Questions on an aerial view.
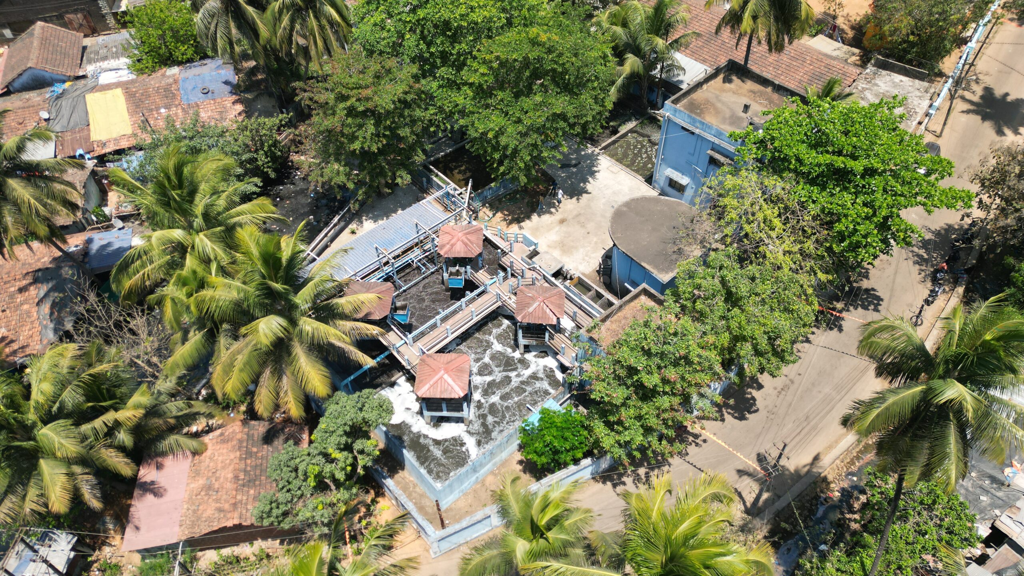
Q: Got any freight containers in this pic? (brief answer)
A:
No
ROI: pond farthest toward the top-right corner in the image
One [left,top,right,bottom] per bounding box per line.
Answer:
[600,117,663,184]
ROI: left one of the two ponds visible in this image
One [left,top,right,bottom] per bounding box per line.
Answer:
[417,132,530,210]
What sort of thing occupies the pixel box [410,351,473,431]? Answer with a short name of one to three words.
gazebo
